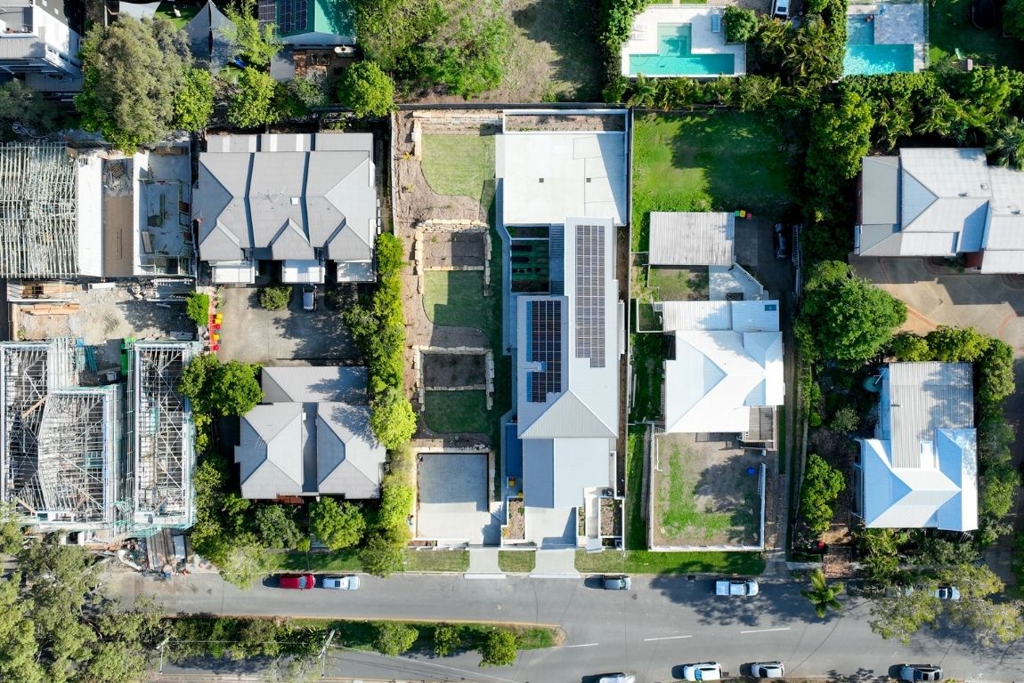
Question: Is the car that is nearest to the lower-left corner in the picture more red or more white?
red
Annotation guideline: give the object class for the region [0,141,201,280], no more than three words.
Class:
building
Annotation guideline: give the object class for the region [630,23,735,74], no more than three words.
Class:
swimming pool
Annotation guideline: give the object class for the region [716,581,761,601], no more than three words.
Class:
vehicle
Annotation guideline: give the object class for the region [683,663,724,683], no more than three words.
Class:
car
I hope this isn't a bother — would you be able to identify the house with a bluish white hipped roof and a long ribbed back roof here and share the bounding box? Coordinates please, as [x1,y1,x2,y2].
[847,361,979,540]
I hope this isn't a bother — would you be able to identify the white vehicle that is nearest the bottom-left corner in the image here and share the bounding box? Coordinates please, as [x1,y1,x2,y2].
[321,575,359,595]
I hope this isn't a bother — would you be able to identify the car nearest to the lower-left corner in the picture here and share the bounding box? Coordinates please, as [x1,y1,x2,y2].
[276,574,314,594]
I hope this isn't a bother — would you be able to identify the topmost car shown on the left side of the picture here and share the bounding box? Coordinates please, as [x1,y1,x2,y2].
[298,284,316,313]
